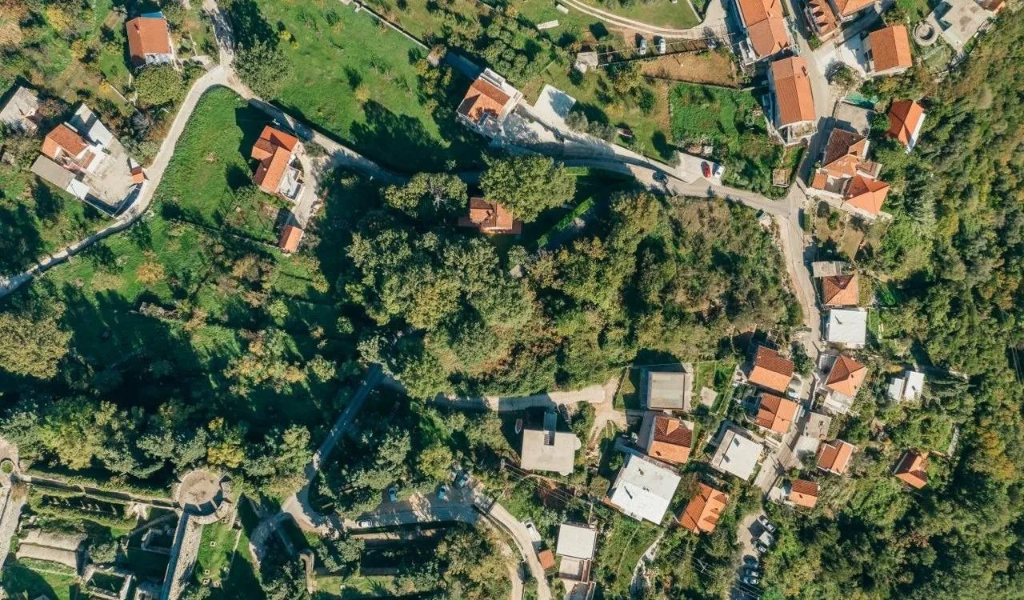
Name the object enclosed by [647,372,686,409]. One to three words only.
building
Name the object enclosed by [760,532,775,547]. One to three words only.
vehicle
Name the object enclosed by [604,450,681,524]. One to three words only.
house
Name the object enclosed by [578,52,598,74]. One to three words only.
shed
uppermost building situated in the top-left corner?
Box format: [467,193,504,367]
[126,10,178,69]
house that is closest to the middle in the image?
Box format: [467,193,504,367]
[458,197,522,235]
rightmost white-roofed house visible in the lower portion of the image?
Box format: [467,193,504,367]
[882,370,925,402]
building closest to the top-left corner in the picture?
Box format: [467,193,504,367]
[0,86,51,132]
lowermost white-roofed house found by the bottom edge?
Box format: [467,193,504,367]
[557,520,595,600]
